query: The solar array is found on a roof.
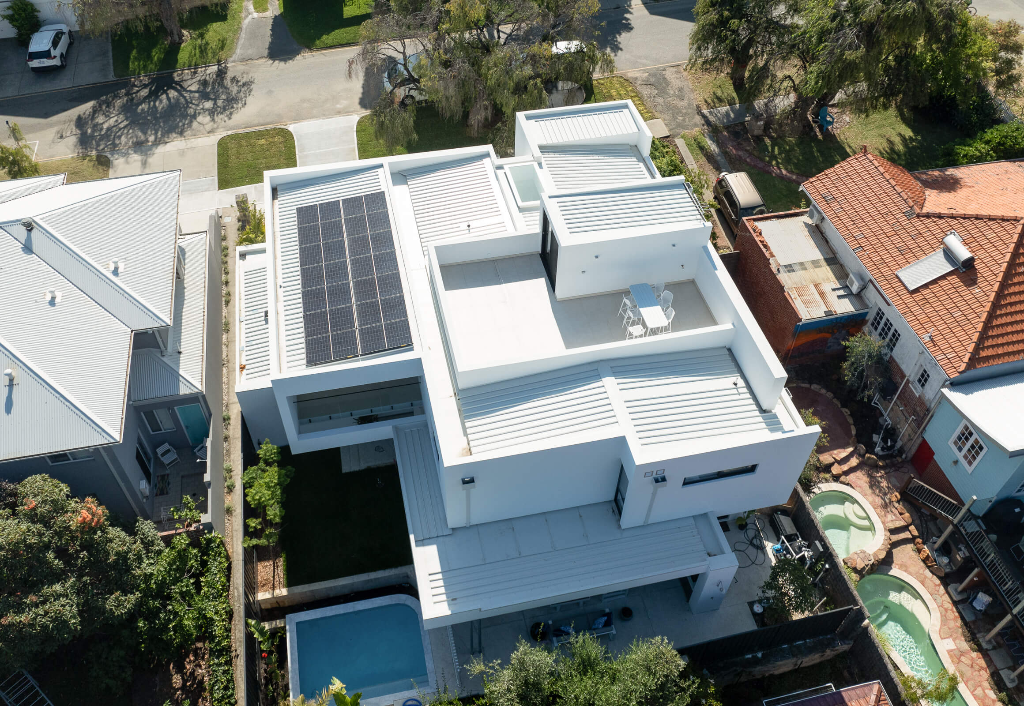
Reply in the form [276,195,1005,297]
[294,191,417,368]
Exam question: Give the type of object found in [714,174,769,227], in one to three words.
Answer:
car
